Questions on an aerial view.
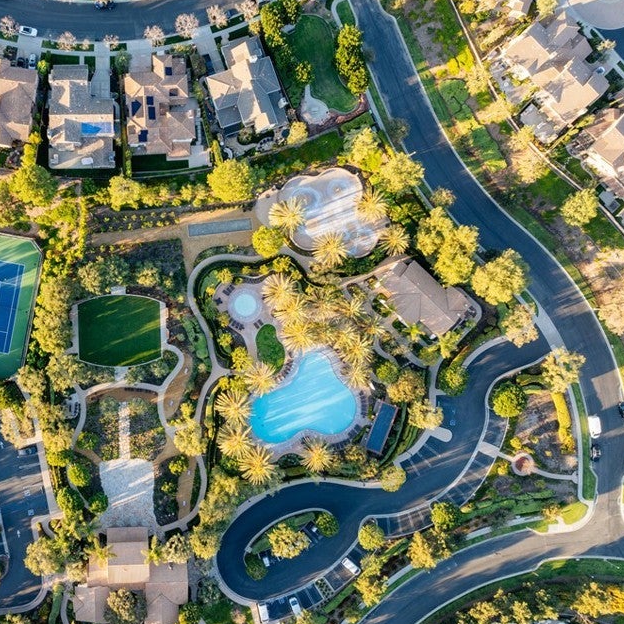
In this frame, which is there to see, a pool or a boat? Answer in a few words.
pool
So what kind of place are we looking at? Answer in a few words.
residential area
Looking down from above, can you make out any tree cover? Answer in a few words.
Yes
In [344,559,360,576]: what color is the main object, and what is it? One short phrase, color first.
white car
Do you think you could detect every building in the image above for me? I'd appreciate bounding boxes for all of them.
[74,523,189,624]
[49,62,115,169]
[573,85,624,196]
[126,54,195,157]
[364,401,397,454]
[488,11,615,132]
[372,259,471,336]
[0,58,39,151]
[203,34,291,135]
[474,0,529,18]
